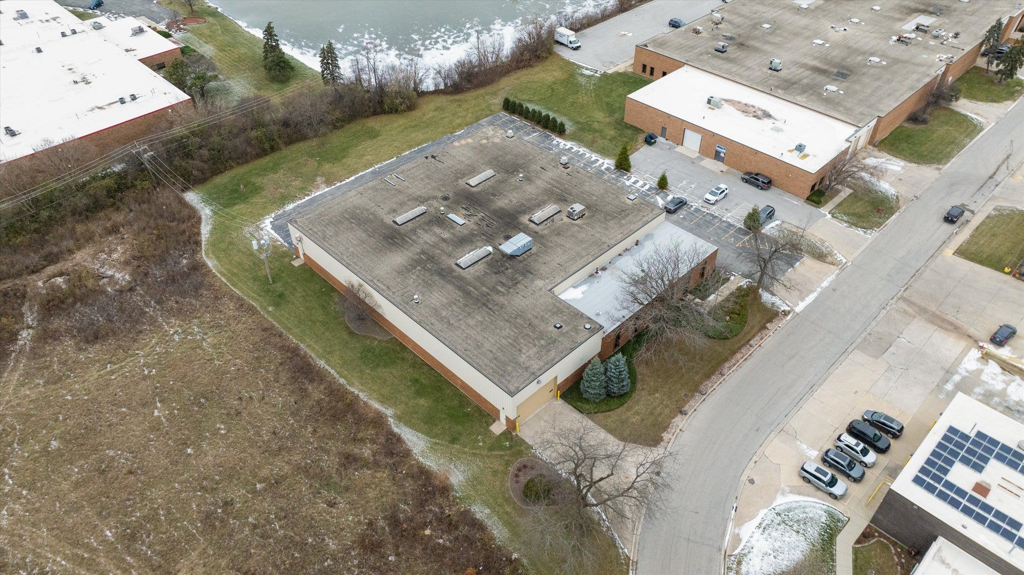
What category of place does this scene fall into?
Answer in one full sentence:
This looks like an industrial area.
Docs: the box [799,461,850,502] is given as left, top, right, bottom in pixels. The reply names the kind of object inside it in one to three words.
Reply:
car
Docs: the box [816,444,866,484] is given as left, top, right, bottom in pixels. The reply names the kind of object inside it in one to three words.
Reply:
car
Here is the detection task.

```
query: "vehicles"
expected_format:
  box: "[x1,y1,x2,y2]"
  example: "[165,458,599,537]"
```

[703,182,728,204]
[859,406,907,441]
[842,414,894,455]
[816,444,866,484]
[830,429,879,468]
[988,322,1014,348]
[739,171,773,190]
[762,203,776,226]
[942,206,964,224]
[86,0,106,10]
[664,196,690,215]
[799,461,850,502]
[548,21,580,48]
[667,15,684,26]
